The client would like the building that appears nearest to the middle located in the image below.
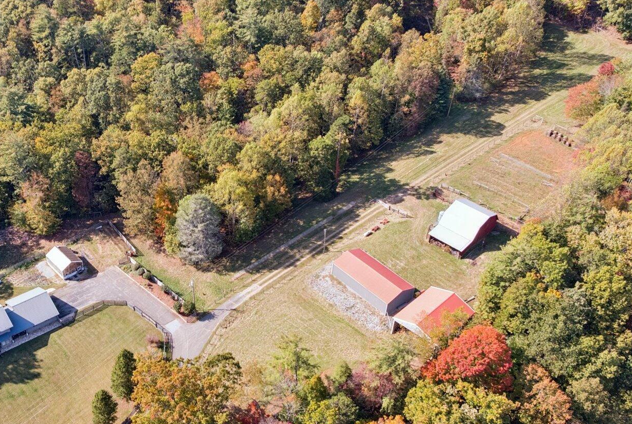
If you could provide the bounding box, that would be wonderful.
[332,248,416,314]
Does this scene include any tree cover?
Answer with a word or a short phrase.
Yes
